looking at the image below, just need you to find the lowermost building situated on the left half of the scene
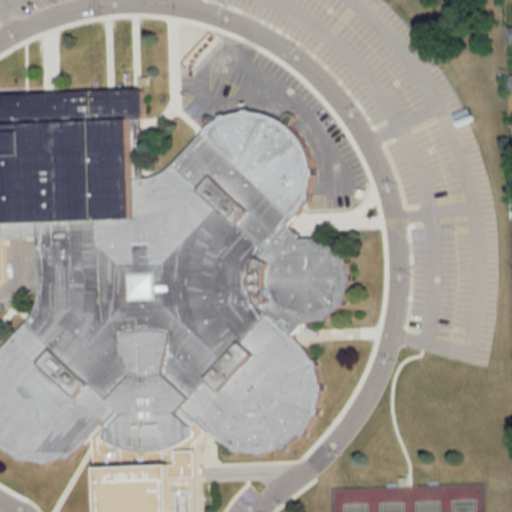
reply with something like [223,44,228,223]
[0,88,351,512]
